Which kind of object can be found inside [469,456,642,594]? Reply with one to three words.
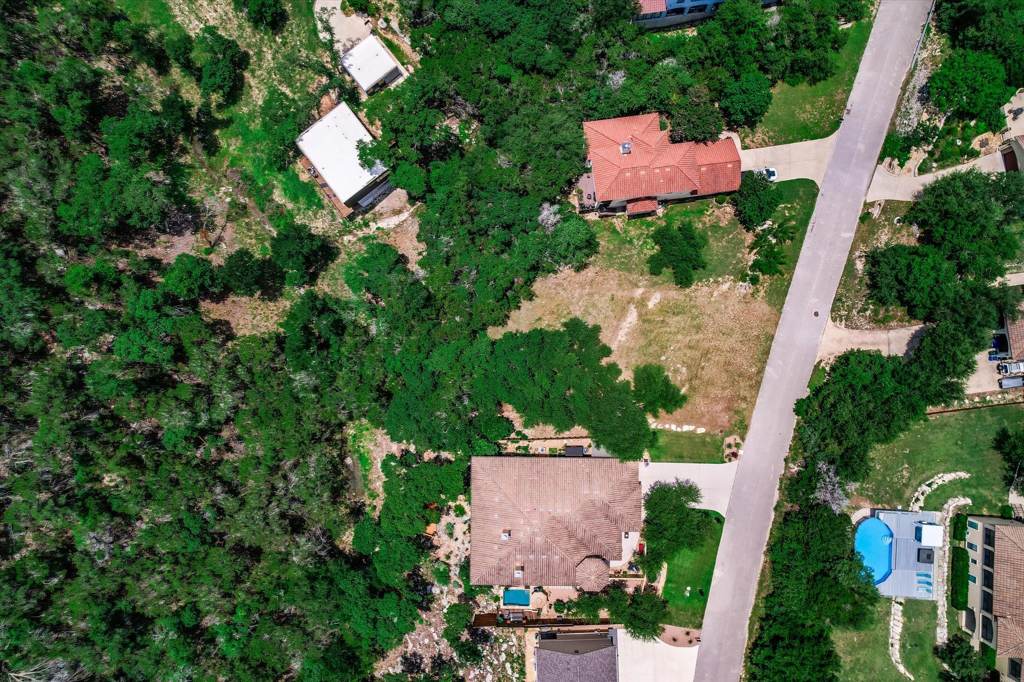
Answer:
house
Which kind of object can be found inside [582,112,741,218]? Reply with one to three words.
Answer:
house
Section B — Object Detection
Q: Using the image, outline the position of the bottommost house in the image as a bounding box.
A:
[536,630,618,682]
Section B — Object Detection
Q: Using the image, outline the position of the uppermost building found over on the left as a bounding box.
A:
[341,33,399,96]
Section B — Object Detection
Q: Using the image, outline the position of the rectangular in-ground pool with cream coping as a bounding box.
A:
[498,586,535,611]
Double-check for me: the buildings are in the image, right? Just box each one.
[341,33,399,96]
[631,0,794,28]
[998,126,1024,183]
[582,112,741,218]
[536,630,618,682]
[296,102,394,209]
[565,445,582,456]
[961,518,1024,682]
[469,456,642,594]
[1004,300,1024,360]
